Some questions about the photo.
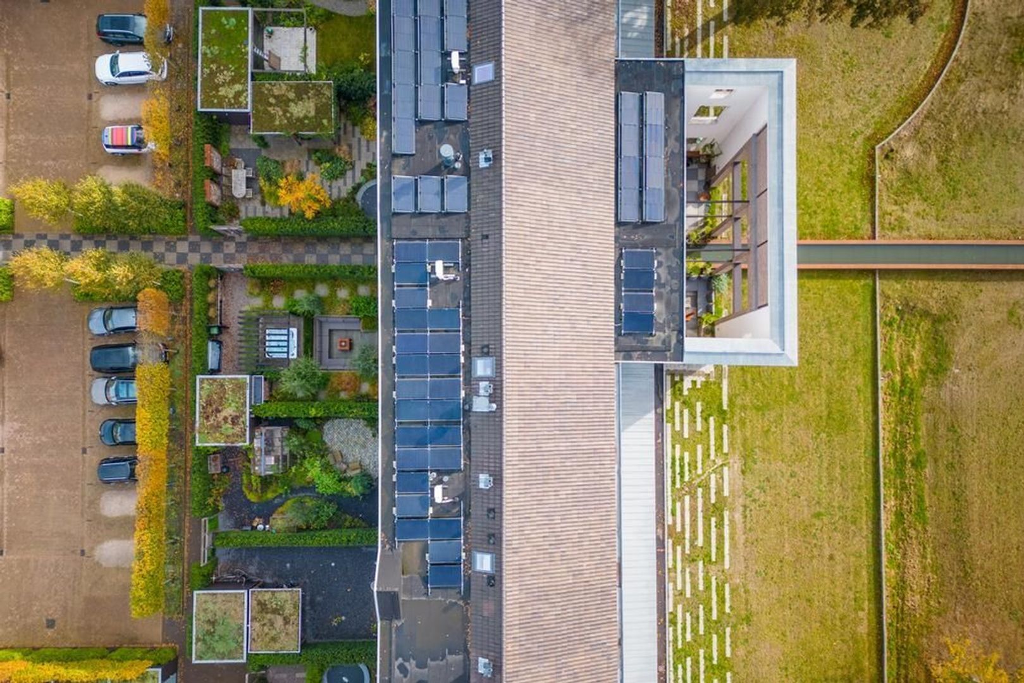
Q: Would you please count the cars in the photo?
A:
8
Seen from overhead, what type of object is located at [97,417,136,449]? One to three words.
car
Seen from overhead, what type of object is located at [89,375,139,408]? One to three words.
car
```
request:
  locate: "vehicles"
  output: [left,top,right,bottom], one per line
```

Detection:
[86,304,155,337]
[93,456,136,485]
[94,48,167,87]
[97,417,136,449]
[93,12,172,49]
[91,341,169,373]
[89,375,139,408]
[99,125,160,155]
